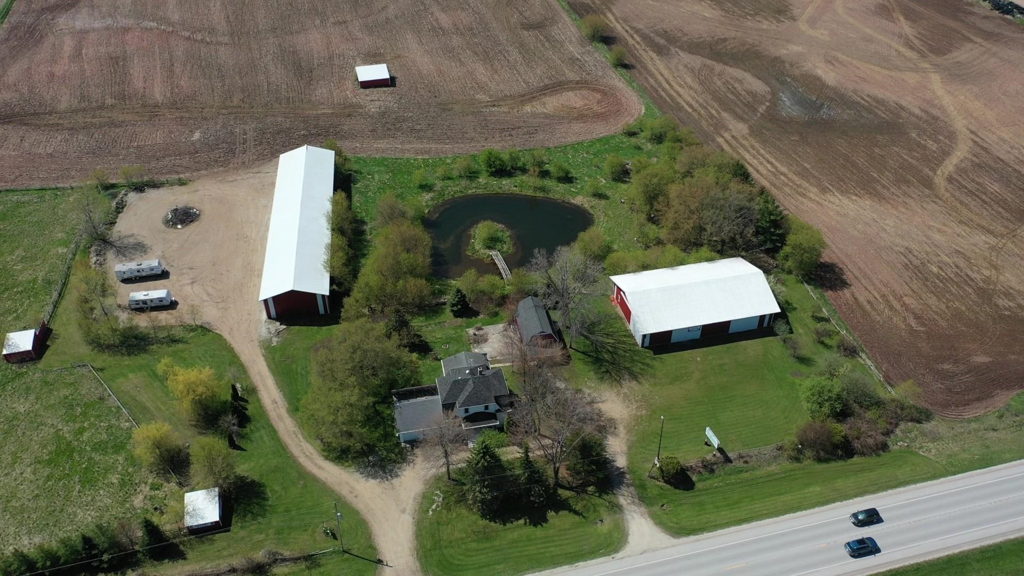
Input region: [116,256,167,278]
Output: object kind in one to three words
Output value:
trailer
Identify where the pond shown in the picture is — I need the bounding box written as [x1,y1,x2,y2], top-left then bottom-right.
[422,193,593,281]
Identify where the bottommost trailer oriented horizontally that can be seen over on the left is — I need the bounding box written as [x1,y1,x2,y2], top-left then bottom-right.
[127,285,177,307]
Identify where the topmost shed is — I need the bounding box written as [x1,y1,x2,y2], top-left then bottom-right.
[356,64,391,89]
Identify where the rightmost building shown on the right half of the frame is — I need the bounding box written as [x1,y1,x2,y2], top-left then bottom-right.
[610,258,781,349]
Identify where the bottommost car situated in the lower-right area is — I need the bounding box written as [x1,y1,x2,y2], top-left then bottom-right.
[846,536,880,557]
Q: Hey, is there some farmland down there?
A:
Yes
